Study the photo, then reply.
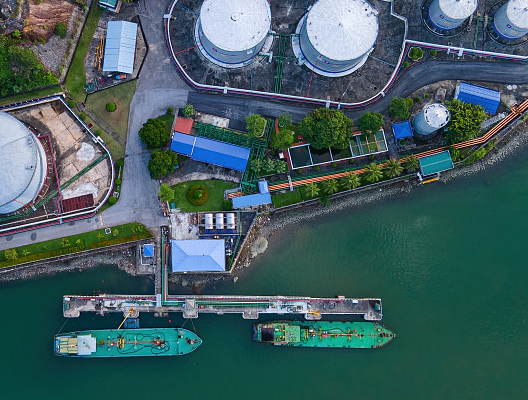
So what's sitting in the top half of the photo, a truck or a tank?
tank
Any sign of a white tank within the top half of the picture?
Yes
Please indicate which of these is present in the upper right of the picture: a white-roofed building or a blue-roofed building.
blue-roofed building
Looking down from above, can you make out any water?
Yes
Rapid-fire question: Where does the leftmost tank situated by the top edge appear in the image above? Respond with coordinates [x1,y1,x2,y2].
[195,0,272,66]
